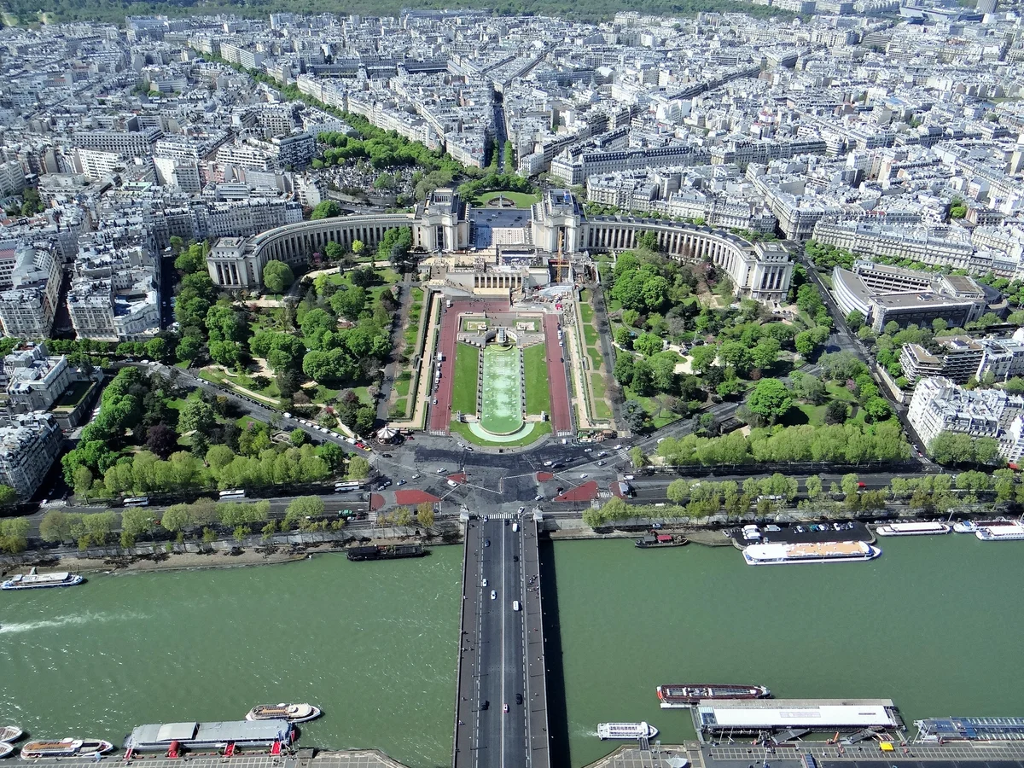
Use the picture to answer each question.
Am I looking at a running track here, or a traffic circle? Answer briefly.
traffic circle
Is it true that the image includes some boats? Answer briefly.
Yes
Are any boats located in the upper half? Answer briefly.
No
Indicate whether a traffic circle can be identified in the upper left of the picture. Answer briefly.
No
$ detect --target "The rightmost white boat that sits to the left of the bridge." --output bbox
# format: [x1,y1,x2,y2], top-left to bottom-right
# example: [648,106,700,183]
[245,703,321,725]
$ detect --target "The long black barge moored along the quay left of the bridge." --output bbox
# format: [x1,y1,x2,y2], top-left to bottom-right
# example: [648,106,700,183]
[348,547,426,564]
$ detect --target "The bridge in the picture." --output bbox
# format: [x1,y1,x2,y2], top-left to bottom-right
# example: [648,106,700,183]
[452,522,552,768]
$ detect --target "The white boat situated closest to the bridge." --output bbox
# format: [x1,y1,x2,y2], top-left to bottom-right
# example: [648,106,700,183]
[598,722,658,742]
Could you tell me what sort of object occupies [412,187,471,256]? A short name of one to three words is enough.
building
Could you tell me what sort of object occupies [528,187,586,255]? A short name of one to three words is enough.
building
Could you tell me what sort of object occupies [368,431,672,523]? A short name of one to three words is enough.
roundabout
